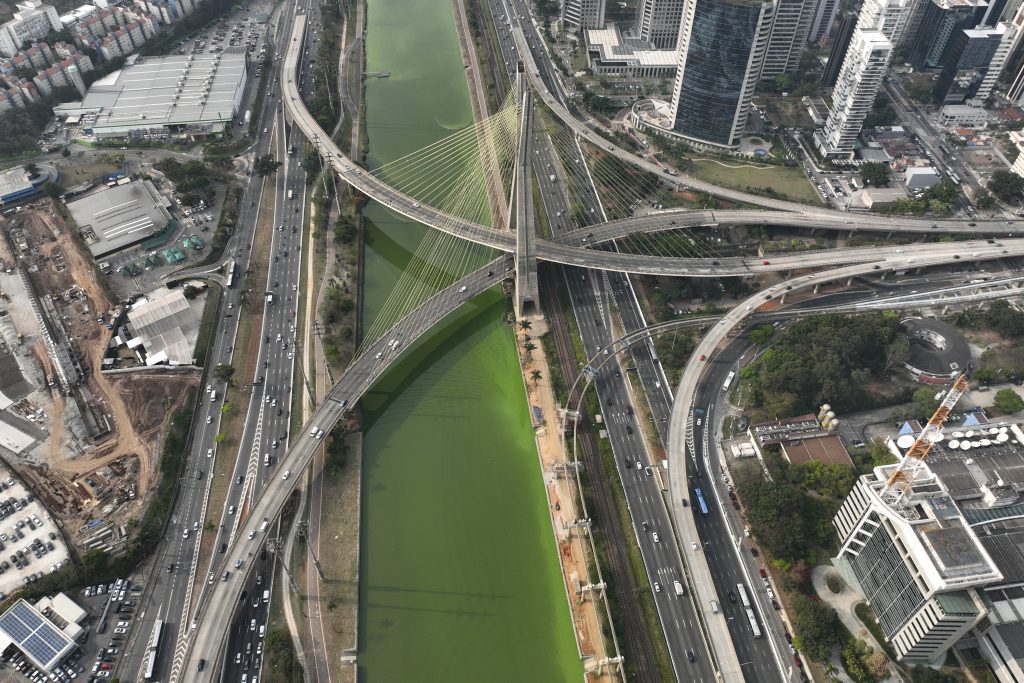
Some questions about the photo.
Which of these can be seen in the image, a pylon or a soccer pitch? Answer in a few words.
pylon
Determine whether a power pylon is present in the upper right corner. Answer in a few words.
No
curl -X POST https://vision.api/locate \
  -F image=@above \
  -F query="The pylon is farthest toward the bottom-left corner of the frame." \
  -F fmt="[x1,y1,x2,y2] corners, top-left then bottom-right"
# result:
[265,546,302,599]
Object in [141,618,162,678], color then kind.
white bus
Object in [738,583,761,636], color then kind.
white bus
